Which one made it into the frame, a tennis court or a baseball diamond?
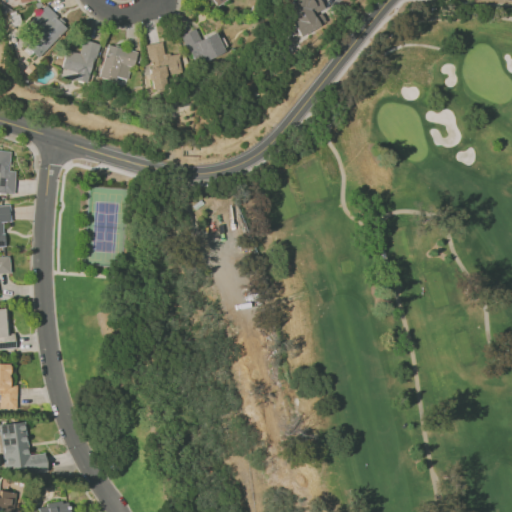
tennis court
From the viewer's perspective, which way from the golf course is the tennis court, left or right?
to the left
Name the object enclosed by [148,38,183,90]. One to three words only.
house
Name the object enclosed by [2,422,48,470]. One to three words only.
house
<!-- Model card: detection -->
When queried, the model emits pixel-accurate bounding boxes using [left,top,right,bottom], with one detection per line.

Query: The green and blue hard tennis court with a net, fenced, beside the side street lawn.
[86,187,126,267]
